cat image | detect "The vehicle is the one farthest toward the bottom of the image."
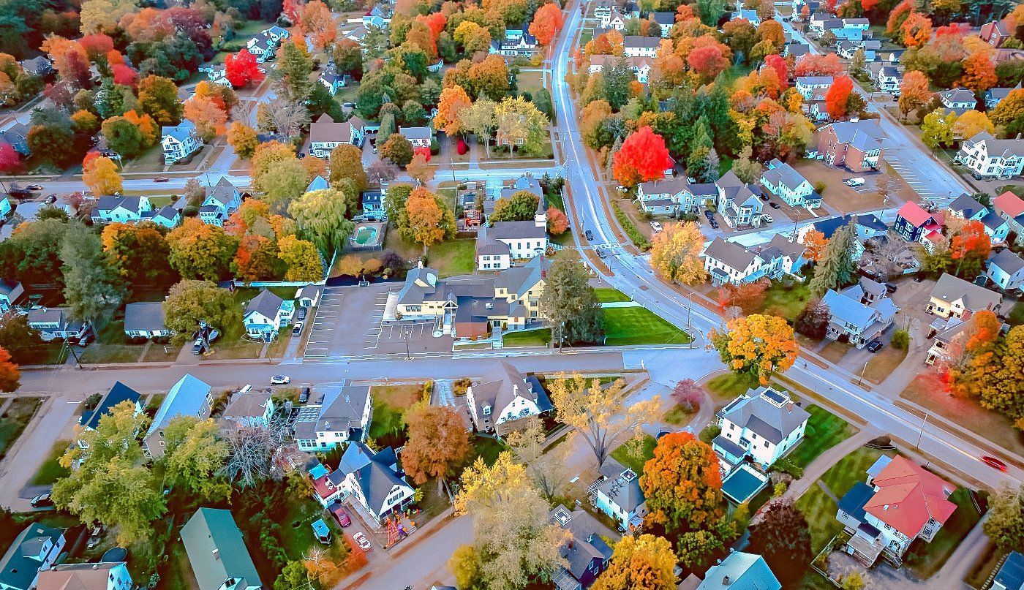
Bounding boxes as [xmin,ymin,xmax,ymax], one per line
[352,531,373,552]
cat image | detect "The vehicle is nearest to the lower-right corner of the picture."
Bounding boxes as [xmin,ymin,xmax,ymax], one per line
[980,455,1008,473]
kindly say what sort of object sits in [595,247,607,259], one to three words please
vehicle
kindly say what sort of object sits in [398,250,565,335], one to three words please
building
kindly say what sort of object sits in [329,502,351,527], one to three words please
truck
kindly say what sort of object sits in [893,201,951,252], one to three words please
house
